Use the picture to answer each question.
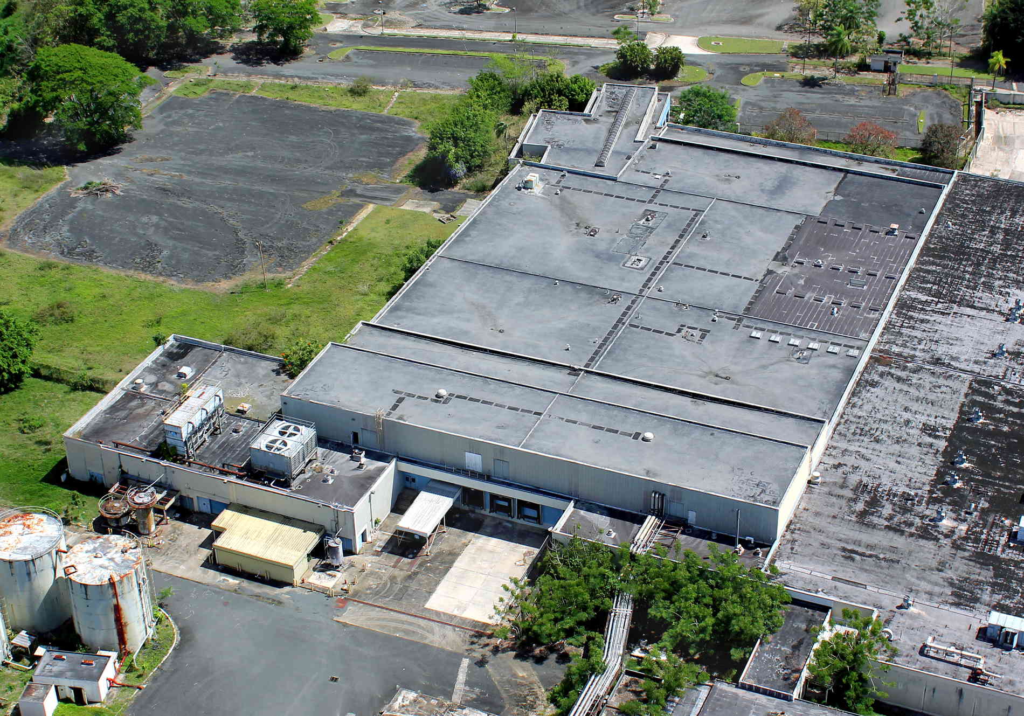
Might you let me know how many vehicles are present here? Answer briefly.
zero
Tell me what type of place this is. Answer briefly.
industrial area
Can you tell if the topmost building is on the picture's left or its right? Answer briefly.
right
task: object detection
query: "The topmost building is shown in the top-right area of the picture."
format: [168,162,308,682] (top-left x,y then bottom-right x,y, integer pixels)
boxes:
[867,45,908,73]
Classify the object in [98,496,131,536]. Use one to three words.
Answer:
storage tank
